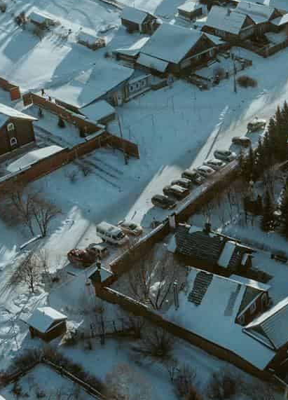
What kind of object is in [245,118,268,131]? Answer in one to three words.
vehicle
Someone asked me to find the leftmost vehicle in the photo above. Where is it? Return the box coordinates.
[66,249,95,264]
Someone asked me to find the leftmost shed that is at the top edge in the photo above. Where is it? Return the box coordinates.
[27,12,57,33]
